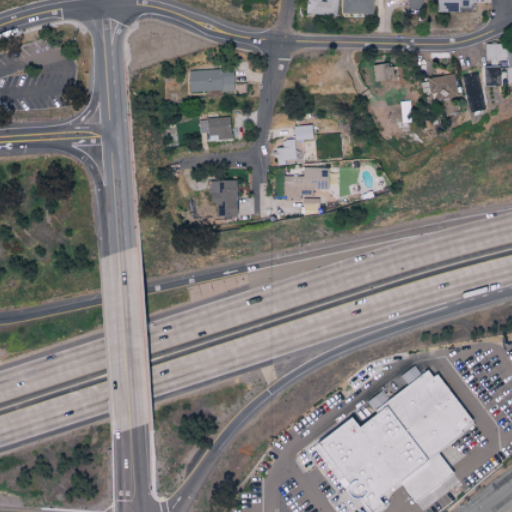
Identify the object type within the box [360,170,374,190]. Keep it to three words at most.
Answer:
swimming pool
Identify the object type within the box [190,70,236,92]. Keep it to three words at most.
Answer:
house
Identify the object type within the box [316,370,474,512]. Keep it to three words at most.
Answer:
building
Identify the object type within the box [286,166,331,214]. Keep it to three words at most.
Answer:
house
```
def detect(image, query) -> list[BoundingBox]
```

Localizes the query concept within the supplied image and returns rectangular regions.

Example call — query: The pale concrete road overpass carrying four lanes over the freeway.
[100,246,152,433]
